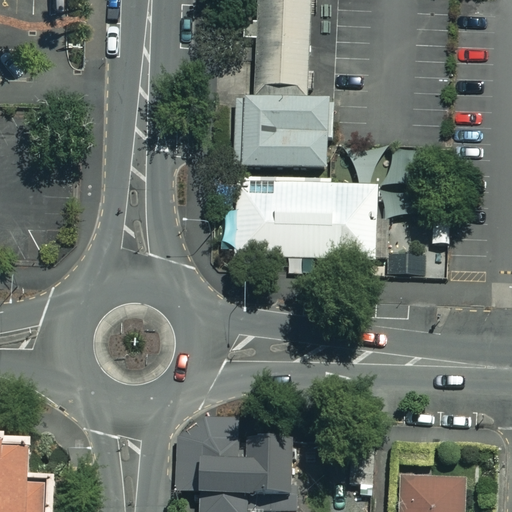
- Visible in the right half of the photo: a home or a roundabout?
home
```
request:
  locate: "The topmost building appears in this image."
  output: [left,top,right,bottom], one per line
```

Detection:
[244,0,310,96]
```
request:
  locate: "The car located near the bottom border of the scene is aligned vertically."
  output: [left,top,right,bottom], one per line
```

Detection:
[333,484,346,511]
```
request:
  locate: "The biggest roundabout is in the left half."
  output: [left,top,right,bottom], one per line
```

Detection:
[92,302,176,386]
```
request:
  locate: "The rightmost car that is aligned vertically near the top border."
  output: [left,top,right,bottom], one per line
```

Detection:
[181,18,194,44]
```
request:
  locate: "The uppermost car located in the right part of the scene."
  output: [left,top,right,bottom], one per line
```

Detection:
[458,16,488,30]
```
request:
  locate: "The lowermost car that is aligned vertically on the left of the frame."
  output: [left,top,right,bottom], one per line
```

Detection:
[174,353,189,382]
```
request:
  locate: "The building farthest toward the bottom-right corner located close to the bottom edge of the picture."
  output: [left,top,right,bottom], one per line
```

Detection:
[398,474,467,512]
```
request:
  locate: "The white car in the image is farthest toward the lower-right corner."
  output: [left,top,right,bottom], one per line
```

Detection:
[442,416,472,430]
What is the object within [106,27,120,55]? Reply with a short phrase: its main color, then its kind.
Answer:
white vehicle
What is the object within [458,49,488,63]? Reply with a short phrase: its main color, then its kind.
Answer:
red car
